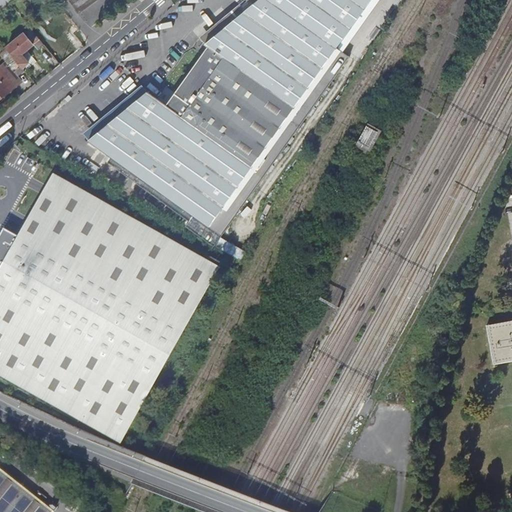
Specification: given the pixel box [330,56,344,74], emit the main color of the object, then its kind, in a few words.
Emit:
white vehicle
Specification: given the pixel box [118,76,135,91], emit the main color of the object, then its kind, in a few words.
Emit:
white vehicle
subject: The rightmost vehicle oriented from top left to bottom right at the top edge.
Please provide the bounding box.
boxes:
[200,10,214,26]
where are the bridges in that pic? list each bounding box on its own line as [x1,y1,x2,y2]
[0,394,288,512]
